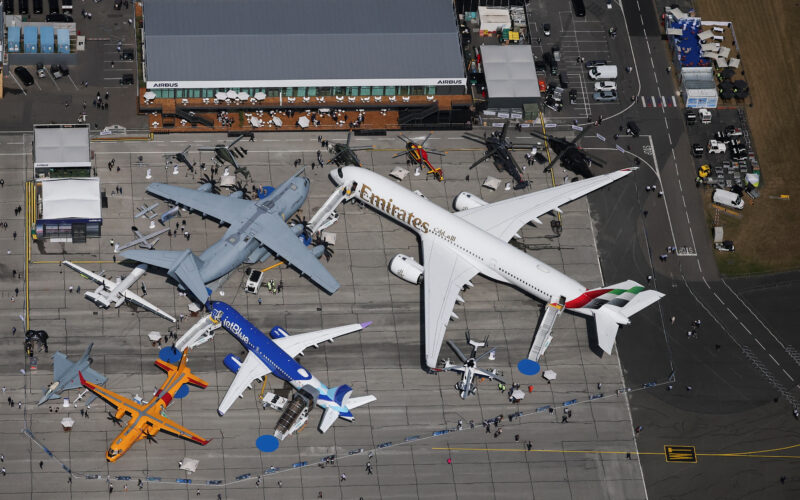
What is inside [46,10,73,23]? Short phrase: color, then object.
black vehicle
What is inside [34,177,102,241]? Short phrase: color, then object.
white tent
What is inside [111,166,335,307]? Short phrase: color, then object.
gray airplane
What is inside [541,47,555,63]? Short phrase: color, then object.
black vehicle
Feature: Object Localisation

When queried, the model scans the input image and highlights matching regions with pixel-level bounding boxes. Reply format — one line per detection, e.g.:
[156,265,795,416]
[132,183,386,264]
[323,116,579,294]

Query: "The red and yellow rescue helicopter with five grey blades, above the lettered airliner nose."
[392,134,445,180]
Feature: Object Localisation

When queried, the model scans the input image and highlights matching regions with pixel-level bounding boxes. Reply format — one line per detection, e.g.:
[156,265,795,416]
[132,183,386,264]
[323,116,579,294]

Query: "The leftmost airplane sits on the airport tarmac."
[34,343,112,408]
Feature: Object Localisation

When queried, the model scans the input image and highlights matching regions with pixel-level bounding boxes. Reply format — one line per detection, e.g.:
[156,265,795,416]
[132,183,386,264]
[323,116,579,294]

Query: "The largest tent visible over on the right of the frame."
[479,45,541,108]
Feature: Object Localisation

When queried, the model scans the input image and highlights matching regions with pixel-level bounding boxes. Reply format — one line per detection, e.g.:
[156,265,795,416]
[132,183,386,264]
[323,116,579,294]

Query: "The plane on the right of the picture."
[329,169,668,373]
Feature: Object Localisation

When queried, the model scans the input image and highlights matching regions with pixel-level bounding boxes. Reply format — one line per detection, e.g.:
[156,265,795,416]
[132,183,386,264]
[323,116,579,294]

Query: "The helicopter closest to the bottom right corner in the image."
[434,331,505,398]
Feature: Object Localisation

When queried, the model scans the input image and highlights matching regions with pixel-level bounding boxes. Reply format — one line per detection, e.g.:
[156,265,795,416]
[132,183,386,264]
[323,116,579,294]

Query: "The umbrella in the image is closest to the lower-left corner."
[60,416,76,432]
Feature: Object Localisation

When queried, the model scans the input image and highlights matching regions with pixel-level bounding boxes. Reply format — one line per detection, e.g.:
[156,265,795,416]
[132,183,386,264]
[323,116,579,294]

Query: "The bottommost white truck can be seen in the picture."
[259,388,288,412]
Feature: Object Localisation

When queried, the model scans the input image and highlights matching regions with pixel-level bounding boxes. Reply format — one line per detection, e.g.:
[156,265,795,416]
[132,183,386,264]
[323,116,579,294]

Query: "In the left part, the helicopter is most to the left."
[163,146,198,176]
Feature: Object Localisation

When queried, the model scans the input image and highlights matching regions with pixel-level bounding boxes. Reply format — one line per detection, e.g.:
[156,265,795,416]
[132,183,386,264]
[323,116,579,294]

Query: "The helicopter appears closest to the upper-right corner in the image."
[534,127,608,188]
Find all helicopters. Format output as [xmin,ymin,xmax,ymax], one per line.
[464,120,542,187]
[534,127,608,188]
[163,146,198,176]
[197,135,259,184]
[392,134,445,180]
[320,131,377,177]
[434,331,505,398]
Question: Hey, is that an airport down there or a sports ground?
airport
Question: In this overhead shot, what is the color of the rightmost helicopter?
black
